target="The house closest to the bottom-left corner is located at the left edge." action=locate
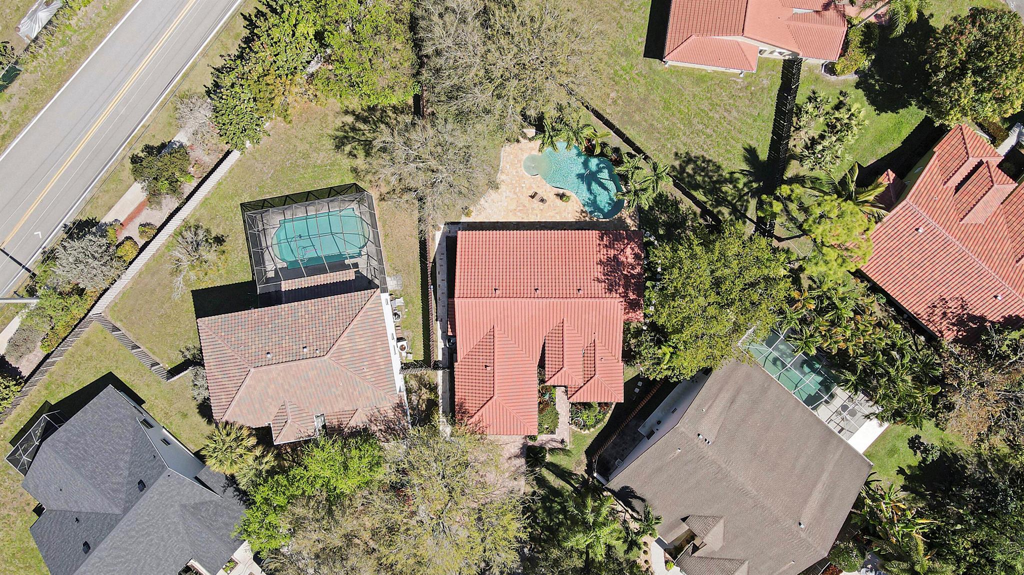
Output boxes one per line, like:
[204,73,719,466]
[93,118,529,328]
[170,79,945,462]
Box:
[22,384,251,575]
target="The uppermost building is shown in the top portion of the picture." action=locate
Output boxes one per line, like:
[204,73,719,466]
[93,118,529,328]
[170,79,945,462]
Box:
[663,0,848,75]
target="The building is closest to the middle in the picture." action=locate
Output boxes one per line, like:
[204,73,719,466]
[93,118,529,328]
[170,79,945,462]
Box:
[447,230,644,435]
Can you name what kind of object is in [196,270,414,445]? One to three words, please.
house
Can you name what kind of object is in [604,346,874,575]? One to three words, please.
house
